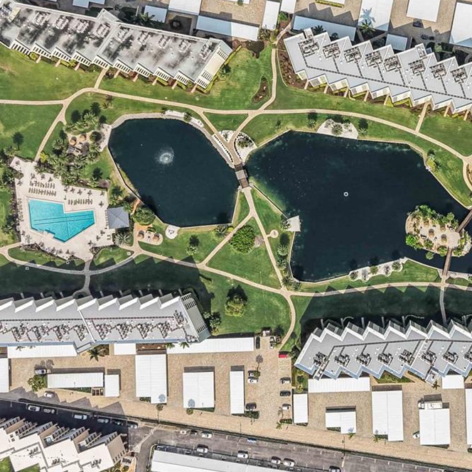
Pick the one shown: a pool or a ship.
pool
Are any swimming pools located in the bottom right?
No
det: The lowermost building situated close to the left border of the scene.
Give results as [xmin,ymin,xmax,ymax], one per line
[0,411,130,472]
